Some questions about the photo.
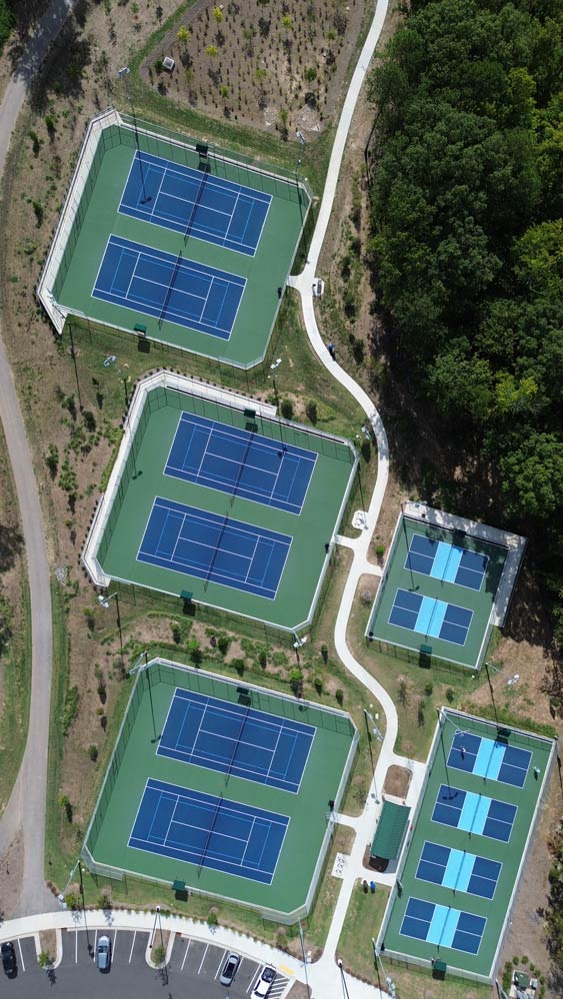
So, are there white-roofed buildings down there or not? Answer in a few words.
No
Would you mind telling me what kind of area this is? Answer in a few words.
sports ground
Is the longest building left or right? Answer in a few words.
right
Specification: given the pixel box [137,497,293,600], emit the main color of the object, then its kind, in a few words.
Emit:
blue tennis court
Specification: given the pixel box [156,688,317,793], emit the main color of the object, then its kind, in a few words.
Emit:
blue tennis court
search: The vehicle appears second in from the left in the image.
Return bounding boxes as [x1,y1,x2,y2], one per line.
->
[96,935,110,968]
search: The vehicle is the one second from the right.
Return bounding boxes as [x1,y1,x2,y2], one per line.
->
[221,952,239,984]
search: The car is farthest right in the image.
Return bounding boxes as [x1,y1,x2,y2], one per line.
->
[253,965,274,999]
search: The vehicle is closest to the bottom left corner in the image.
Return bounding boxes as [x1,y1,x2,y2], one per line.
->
[2,942,18,974]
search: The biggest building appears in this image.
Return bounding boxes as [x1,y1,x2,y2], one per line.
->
[368,795,411,860]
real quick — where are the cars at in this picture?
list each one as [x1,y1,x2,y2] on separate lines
[96,935,110,968]
[253,965,274,999]
[2,942,18,974]
[221,952,239,984]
